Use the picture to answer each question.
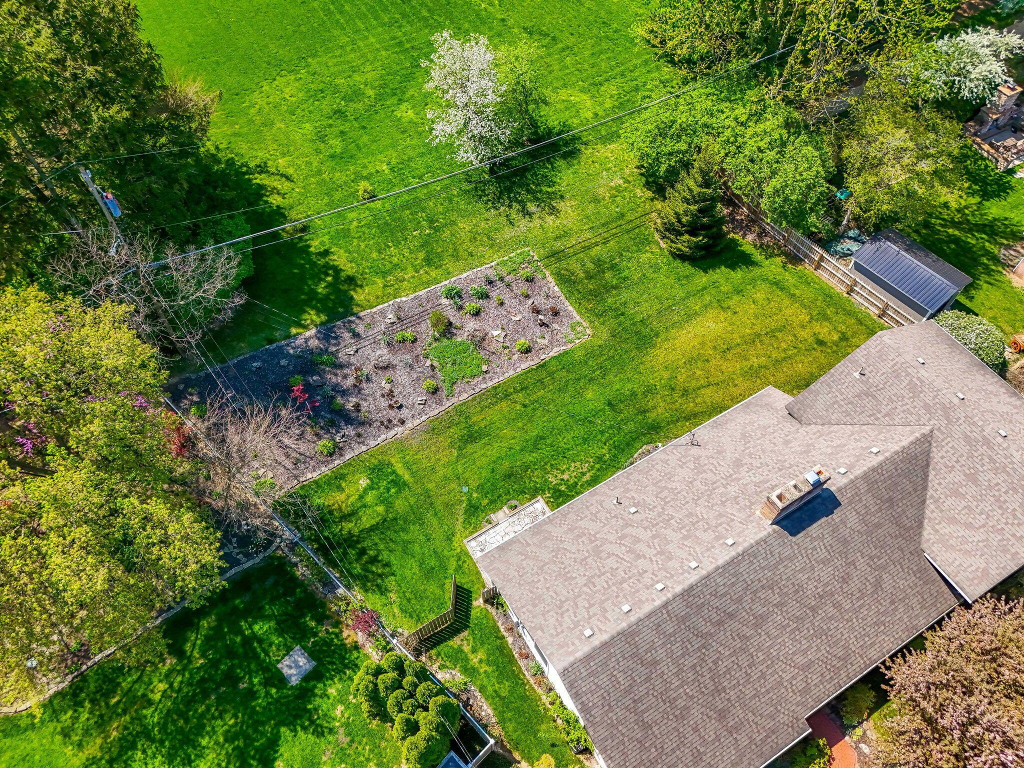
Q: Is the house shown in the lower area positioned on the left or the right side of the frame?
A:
right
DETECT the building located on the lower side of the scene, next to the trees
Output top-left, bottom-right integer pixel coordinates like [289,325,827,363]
[476,314,1024,768]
